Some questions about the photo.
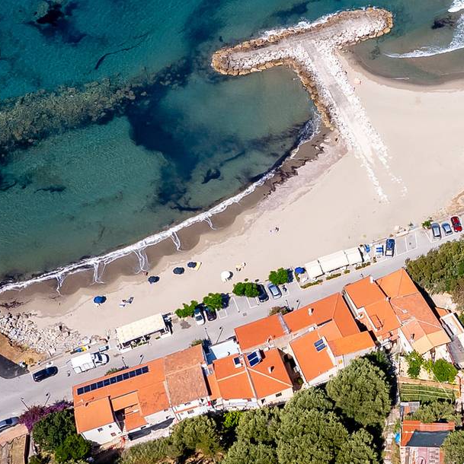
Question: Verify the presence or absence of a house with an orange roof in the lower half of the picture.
Yes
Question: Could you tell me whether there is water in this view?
Yes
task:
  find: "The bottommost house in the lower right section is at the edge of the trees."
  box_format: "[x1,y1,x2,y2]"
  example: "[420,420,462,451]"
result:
[400,401,454,452]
